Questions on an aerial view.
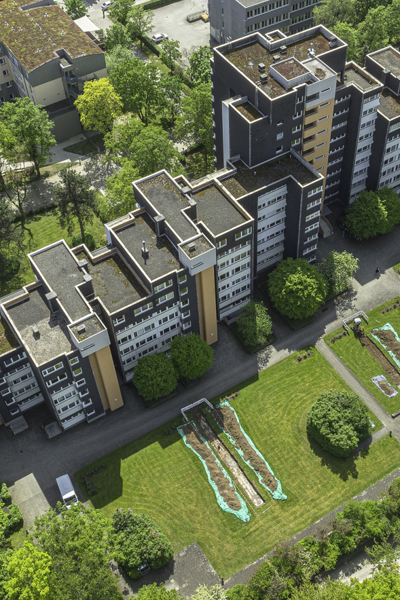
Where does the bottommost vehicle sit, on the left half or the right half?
left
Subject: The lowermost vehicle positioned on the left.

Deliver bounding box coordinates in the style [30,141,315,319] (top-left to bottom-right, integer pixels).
[52,468,75,506]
